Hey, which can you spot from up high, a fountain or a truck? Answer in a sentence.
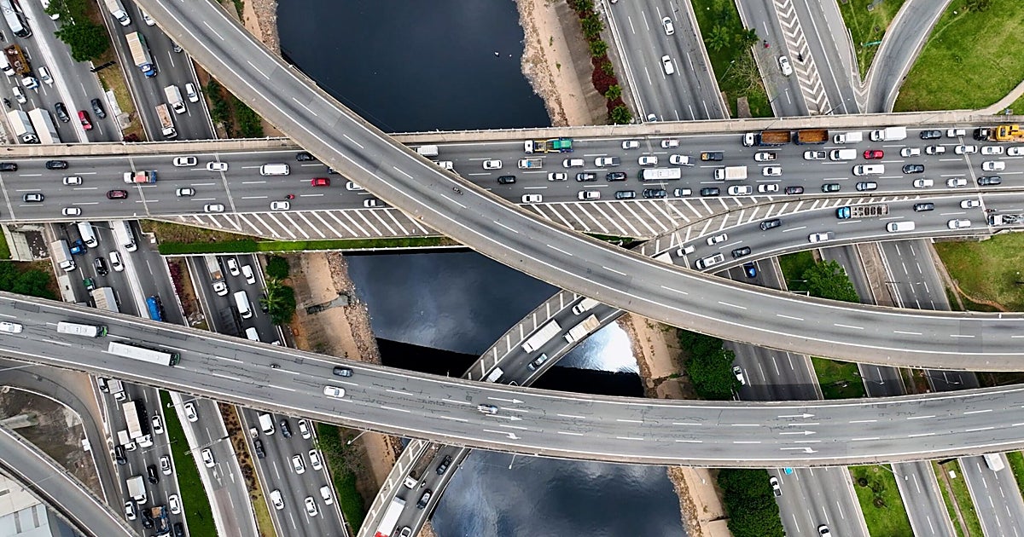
Of the two, only a truck appears.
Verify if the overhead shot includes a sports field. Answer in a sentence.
No, no sports field is visible in the scene.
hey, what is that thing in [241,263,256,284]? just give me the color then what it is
white car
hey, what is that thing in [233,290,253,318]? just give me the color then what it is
white vehicle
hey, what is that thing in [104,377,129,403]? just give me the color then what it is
white truck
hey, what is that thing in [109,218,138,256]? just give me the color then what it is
white bus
